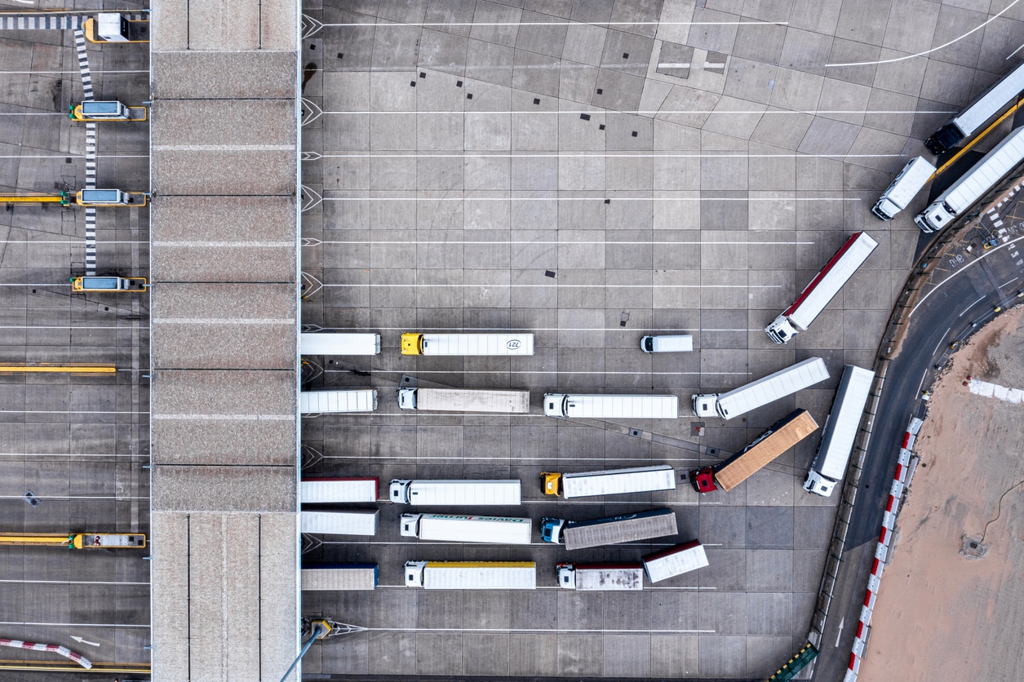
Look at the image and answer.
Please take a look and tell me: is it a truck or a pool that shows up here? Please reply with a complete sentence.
There is a truck in the scene.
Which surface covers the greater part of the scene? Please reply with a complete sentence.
For the most part, this view shows paved ground.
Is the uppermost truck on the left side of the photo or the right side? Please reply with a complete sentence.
You can find the uppermost truck on the right side of the picture.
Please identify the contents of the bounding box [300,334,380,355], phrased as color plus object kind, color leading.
white truck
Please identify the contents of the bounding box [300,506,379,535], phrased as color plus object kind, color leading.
white truck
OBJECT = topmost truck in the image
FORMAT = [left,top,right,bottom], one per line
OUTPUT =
[921,61,1024,155]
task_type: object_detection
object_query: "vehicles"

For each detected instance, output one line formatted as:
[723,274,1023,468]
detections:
[300,334,380,355]
[800,365,874,500]
[541,465,676,499]
[542,394,678,419]
[687,408,818,496]
[642,333,694,354]
[396,386,530,412]
[300,388,378,413]
[912,130,1024,232]
[300,476,381,503]
[389,478,521,505]
[403,559,536,589]
[539,508,678,550]
[402,332,534,357]
[398,512,532,544]
[864,157,936,231]
[300,506,379,535]
[764,231,879,345]
[300,560,379,590]
[691,358,830,420]
[921,61,1024,155]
